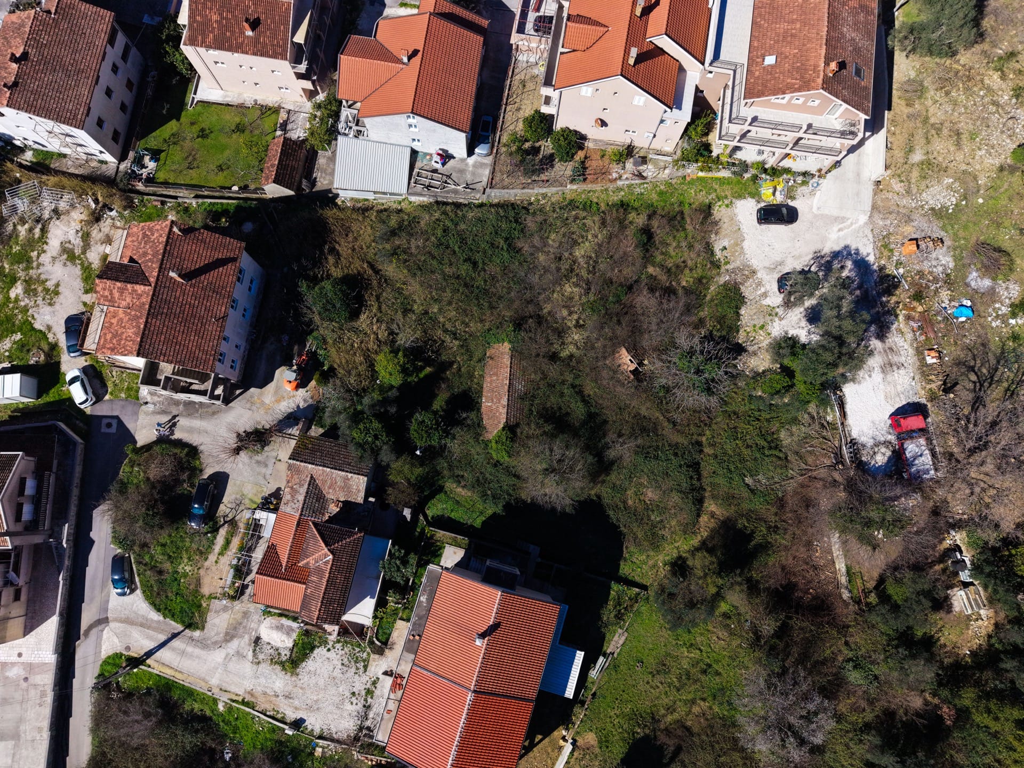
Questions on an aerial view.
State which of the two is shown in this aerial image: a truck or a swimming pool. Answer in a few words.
truck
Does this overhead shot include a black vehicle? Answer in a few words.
Yes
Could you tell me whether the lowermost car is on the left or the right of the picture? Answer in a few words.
left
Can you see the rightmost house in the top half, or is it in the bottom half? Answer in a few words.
top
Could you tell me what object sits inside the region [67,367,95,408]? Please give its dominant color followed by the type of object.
white car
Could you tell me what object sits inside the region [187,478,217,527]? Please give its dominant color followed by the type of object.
black car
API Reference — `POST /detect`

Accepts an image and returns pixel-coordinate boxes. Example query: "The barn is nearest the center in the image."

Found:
[481,344,523,435]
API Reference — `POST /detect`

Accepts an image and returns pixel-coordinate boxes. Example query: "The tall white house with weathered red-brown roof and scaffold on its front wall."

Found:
[0,0,145,159]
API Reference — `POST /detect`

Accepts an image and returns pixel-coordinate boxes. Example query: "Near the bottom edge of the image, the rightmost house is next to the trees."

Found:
[368,543,585,768]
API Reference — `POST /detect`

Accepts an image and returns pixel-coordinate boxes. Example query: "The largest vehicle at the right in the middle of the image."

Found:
[888,414,940,483]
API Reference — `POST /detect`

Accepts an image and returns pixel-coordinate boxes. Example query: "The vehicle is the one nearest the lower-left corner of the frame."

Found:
[108,553,134,596]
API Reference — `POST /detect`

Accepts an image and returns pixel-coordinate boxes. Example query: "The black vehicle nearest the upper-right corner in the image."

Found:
[756,205,797,226]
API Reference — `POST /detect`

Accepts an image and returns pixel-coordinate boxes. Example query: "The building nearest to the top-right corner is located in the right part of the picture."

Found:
[694,0,880,160]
